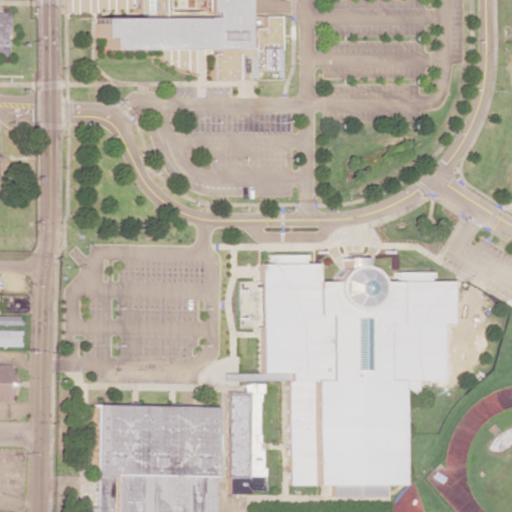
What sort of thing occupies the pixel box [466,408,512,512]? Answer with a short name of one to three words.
sports field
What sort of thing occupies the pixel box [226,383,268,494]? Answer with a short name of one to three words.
building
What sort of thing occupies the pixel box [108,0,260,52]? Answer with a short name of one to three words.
building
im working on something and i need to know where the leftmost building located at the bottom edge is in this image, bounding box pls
[96,405,222,512]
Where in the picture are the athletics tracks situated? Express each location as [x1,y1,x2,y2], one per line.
[428,388,512,512]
